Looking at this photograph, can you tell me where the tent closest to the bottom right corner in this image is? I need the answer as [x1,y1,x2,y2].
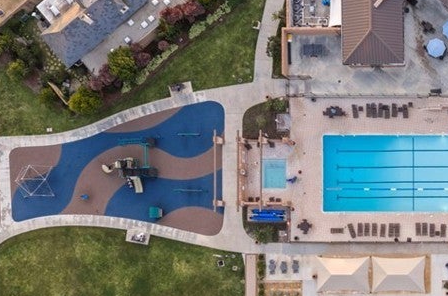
[372,256,428,293]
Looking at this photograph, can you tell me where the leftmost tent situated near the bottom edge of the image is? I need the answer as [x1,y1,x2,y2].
[317,256,372,293]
